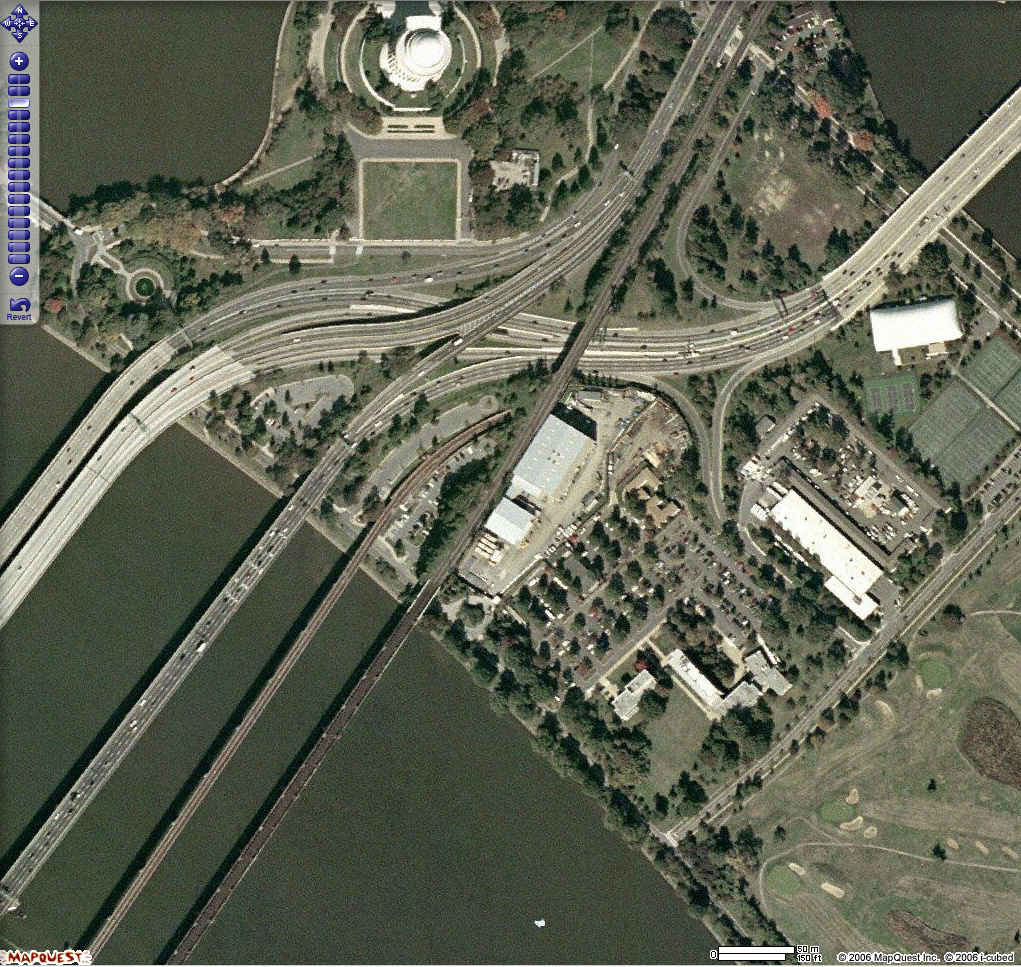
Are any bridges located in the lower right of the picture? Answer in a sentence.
No, I can find no bridge in the lower right of the picture.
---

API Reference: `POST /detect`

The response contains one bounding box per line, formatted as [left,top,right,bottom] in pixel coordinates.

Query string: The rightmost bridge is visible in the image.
[822,88,1021,330]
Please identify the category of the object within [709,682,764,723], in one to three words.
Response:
building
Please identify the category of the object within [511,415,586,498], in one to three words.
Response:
shed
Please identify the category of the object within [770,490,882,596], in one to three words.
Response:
building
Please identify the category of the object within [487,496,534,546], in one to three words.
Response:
shed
